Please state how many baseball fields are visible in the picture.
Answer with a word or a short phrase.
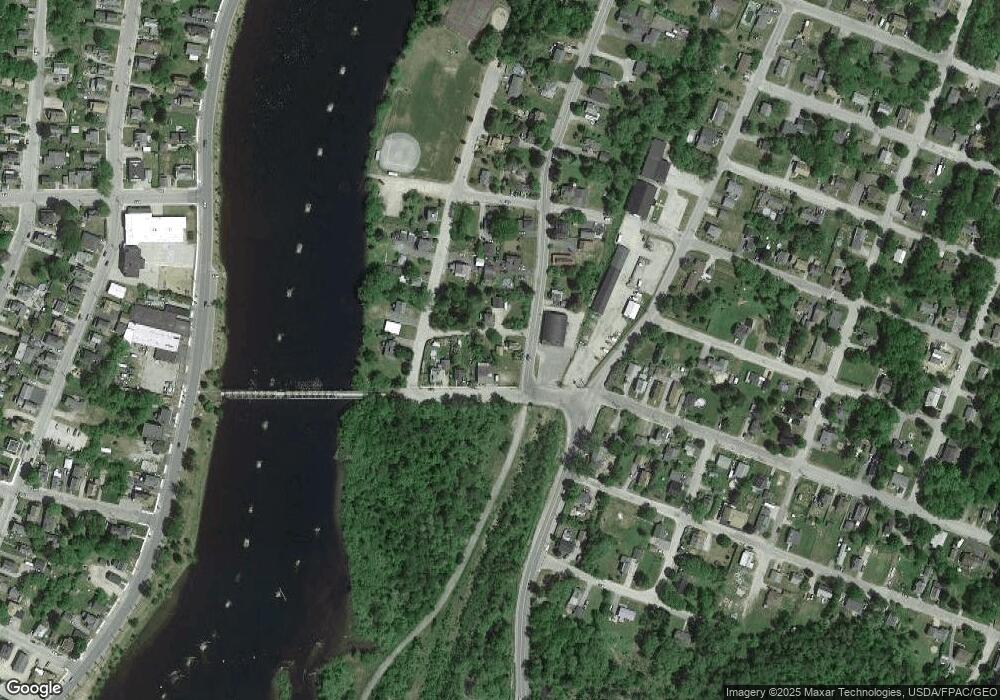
one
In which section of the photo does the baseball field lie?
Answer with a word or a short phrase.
top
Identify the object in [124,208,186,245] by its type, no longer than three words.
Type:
building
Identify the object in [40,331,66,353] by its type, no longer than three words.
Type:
house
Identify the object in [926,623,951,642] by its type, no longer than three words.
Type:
house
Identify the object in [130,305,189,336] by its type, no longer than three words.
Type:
building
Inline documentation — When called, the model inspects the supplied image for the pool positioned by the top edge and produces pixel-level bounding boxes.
[739,3,758,27]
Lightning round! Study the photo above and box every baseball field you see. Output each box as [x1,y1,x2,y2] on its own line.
[379,25,480,181]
